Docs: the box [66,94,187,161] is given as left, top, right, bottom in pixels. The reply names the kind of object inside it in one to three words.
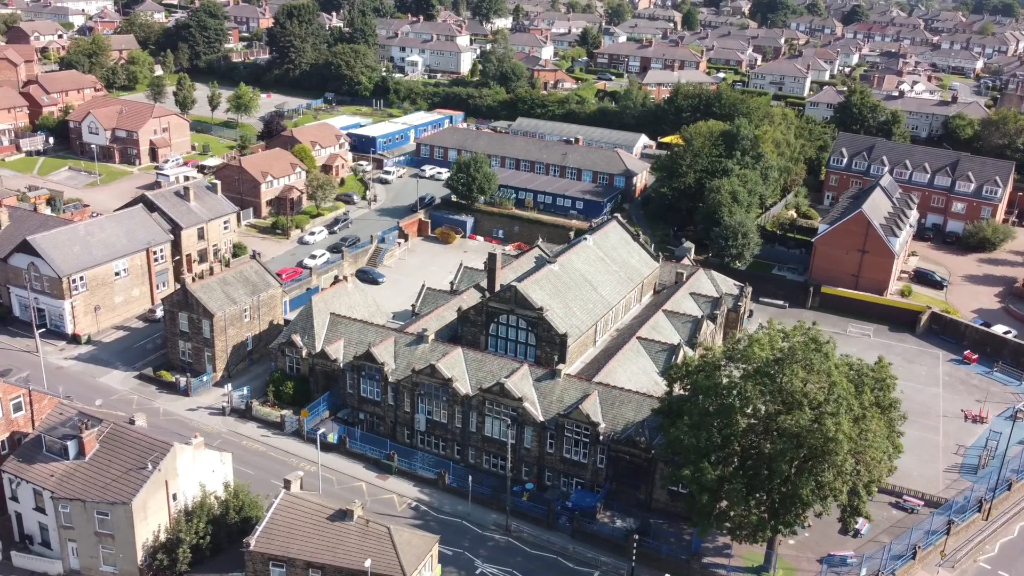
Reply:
house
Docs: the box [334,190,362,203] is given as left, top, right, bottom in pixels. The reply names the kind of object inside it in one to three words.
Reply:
vehicle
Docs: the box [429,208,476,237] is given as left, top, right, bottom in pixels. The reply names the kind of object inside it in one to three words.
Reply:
shipping container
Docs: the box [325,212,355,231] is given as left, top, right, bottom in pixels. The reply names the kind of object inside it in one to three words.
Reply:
car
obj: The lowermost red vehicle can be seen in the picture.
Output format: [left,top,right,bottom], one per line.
[271,263,307,281]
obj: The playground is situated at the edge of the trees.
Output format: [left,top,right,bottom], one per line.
[716,305,1024,576]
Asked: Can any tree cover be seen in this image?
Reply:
Yes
